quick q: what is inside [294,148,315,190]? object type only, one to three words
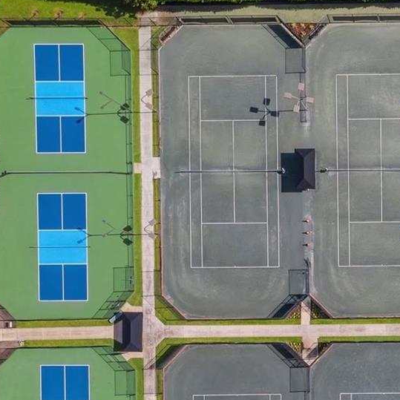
building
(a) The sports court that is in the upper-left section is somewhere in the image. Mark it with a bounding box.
[0,26,132,172]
